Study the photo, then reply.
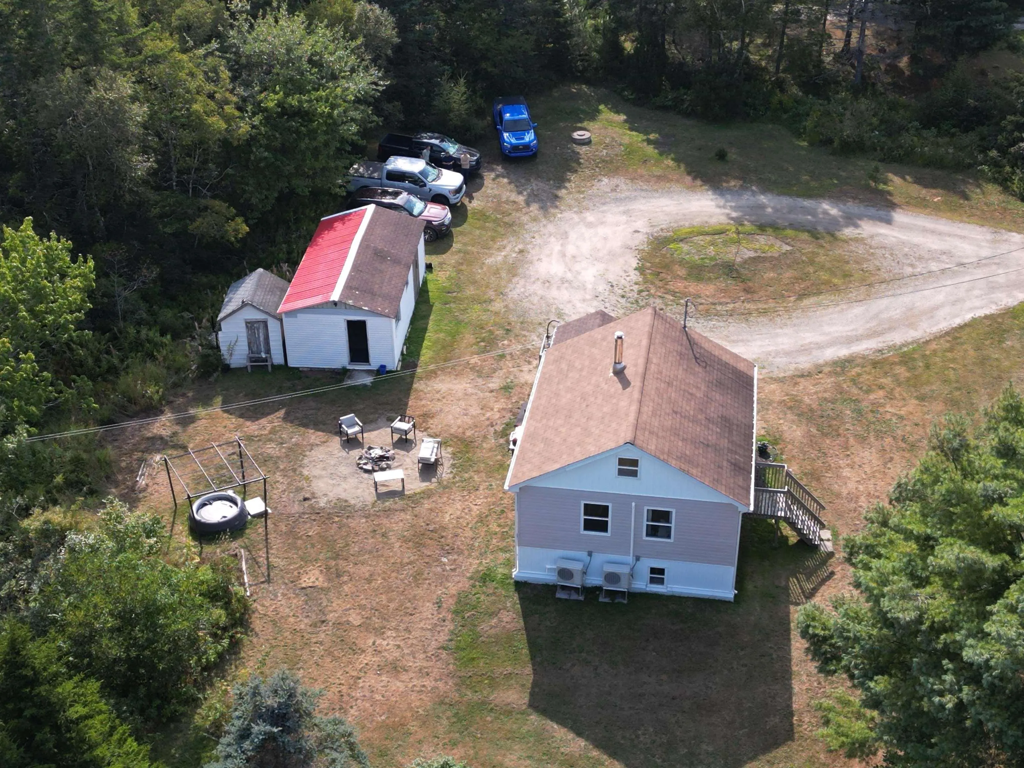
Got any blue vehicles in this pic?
Yes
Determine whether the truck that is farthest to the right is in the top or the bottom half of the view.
top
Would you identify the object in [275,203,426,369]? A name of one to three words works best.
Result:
building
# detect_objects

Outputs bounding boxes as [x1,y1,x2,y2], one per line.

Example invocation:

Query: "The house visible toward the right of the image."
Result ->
[502,296,760,602]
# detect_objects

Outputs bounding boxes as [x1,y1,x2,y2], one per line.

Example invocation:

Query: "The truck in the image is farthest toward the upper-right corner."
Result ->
[497,105,538,162]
